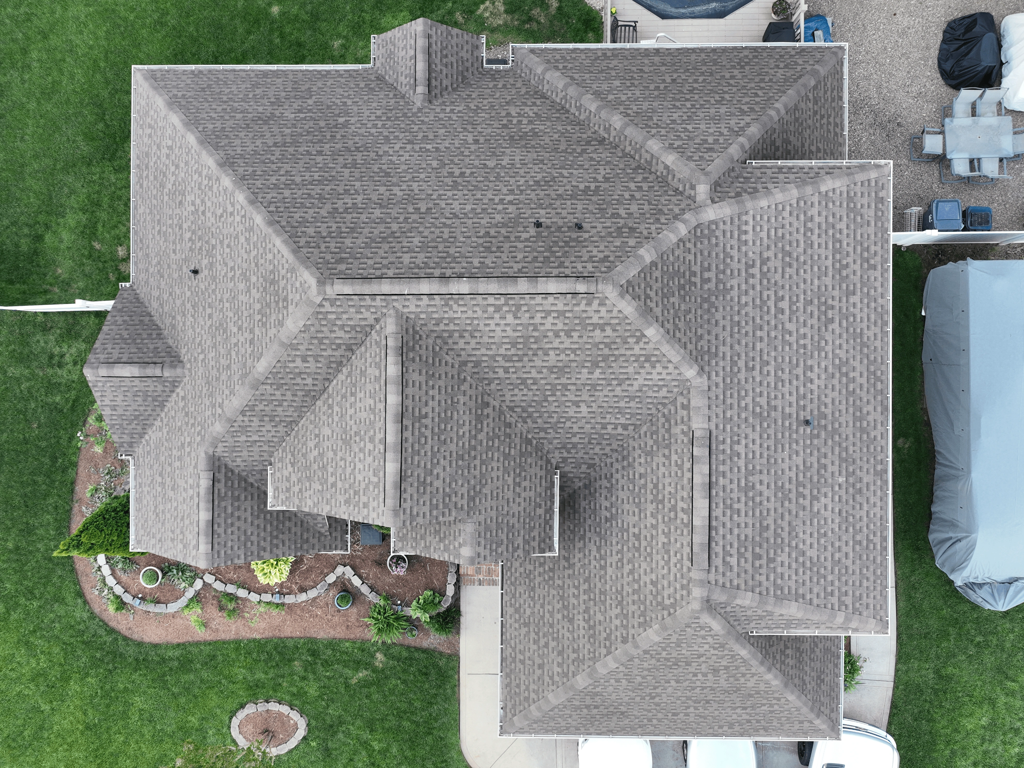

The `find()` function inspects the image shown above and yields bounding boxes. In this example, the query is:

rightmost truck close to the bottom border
[798,703,897,768]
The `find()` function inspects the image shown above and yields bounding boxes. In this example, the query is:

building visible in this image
[82,17,893,739]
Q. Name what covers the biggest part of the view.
buildings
